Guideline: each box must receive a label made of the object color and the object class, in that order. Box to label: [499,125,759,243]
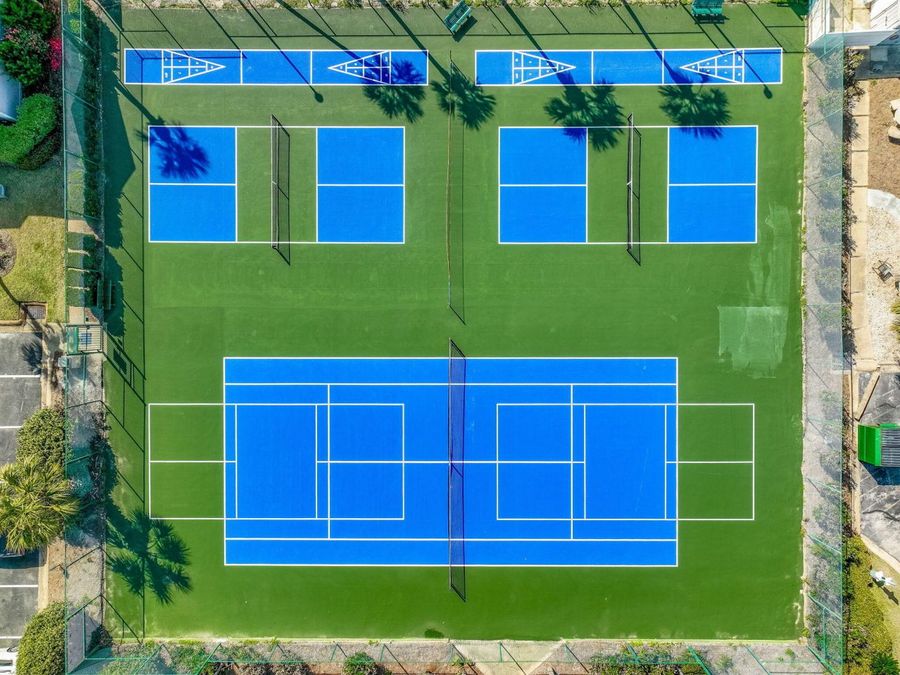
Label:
blue sports court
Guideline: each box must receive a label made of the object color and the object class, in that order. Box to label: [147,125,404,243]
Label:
blue sports court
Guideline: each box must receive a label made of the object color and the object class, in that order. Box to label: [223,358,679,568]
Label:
blue tennis court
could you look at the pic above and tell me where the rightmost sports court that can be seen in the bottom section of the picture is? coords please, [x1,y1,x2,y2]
[497,403,756,520]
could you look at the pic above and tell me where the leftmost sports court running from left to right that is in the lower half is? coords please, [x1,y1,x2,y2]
[147,403,403,520]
